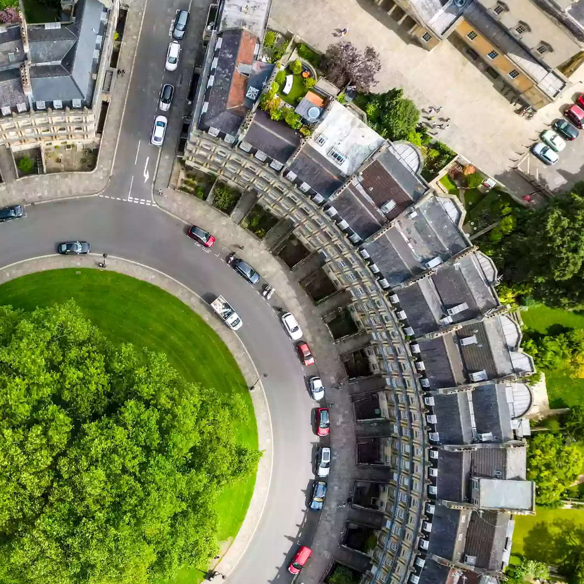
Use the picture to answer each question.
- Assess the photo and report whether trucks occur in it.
Yes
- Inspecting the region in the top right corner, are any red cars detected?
Yes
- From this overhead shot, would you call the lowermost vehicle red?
Yes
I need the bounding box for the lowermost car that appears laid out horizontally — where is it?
[60,240,89,255]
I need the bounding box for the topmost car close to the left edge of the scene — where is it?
[0,204,25,222]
